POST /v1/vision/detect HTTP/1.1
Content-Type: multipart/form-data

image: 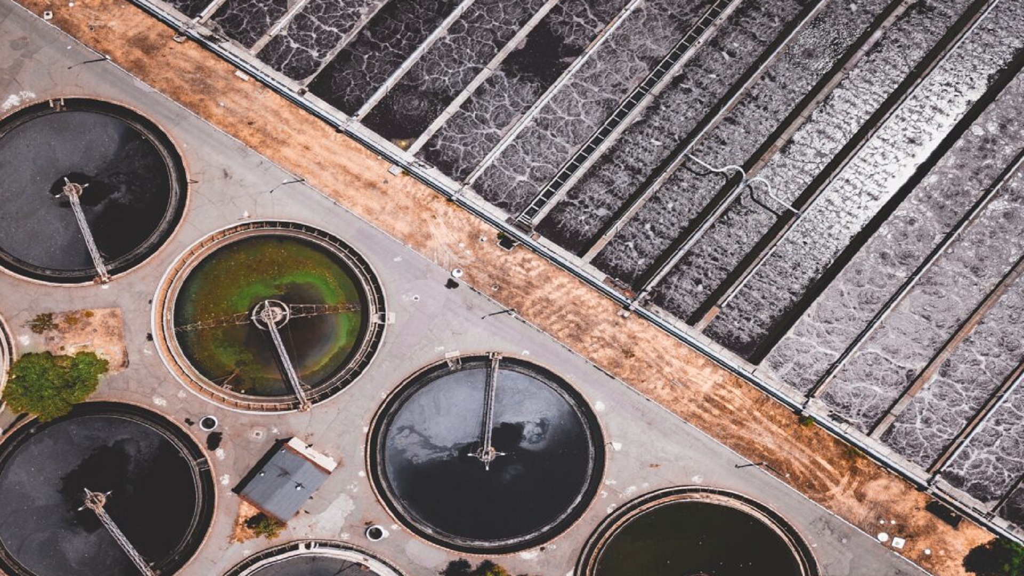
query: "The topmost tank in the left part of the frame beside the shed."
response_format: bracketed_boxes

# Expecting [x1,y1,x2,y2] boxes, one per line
[151,218,386,415]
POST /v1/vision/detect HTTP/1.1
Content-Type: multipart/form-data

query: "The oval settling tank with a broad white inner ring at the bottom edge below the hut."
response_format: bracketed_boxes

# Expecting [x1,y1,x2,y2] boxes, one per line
[224,540,405,576]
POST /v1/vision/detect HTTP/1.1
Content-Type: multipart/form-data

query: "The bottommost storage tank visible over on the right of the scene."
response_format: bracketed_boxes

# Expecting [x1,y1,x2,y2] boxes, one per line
[576,485,819,576]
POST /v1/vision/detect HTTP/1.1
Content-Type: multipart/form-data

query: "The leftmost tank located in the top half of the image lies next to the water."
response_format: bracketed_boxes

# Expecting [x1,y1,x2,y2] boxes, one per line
[0,93,189,288]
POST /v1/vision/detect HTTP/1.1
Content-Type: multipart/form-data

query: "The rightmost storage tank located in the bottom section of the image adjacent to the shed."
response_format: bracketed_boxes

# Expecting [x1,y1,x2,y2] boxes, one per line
[368,354,606,555]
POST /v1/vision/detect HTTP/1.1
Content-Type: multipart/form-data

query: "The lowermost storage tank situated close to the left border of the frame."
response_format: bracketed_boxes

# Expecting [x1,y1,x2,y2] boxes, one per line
[0,401,215,576]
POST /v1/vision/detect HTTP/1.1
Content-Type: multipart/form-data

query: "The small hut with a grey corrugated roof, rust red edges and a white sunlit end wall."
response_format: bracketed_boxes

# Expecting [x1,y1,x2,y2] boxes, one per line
[238,433,338,524]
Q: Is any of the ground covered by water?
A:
Yes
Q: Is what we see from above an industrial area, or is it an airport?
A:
industrial area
